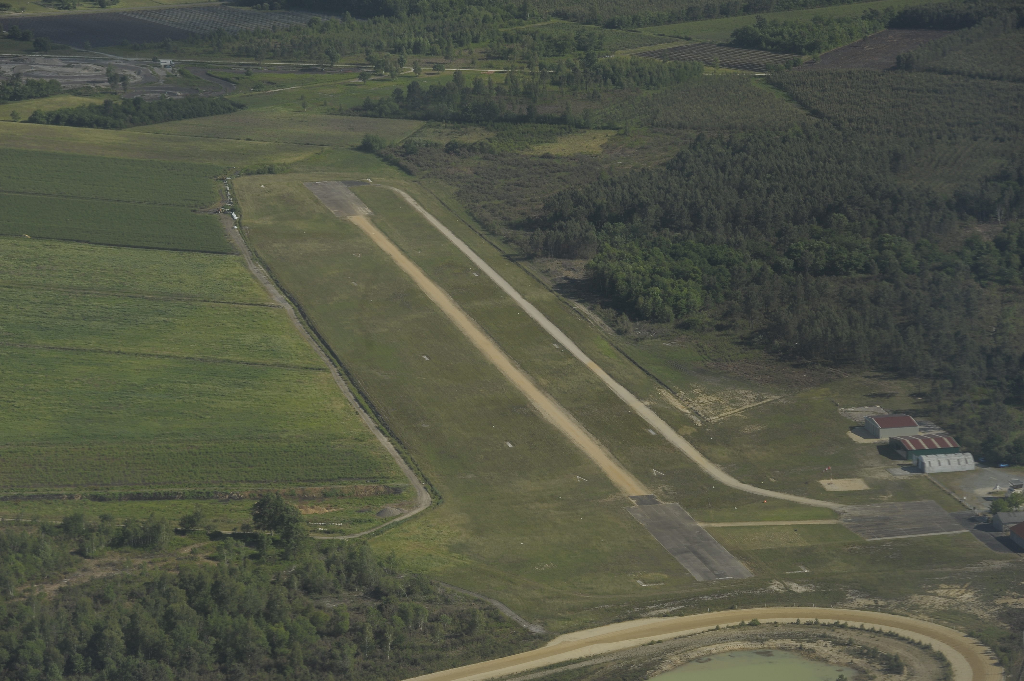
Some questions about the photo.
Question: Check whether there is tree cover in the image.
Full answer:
Yes, tree cover shows up in the scene.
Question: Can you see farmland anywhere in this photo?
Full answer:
Yes, there is farmland in the image.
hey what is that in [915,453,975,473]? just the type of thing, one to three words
shed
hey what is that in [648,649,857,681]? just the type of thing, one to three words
pond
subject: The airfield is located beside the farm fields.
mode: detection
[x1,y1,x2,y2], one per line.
[261,178,1024,586]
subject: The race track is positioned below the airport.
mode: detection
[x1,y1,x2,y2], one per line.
[403,607,1005,681]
